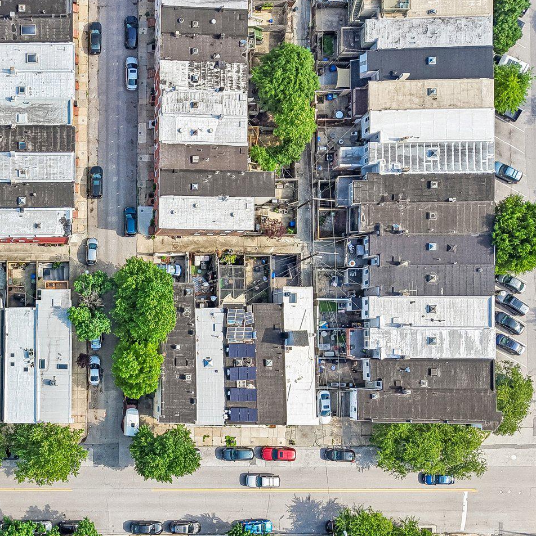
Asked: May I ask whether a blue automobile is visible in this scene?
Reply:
Yes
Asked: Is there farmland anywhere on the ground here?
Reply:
No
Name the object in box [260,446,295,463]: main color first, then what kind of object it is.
red car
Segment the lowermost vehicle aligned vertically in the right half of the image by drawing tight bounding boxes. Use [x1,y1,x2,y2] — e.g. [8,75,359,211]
[319,387,333,421]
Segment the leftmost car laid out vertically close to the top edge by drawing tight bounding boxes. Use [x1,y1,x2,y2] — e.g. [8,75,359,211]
[87,21,104,56]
